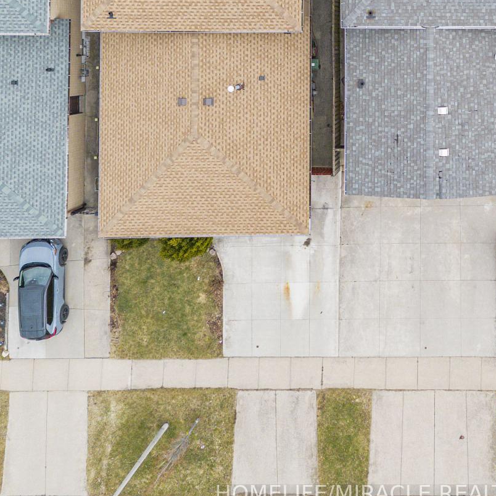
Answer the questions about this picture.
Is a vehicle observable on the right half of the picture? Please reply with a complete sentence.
No, I can find no vehicle on the right half of the picture.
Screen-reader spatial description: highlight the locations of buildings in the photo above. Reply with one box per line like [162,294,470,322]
[338,0,496,199]
[79,0,314,240]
